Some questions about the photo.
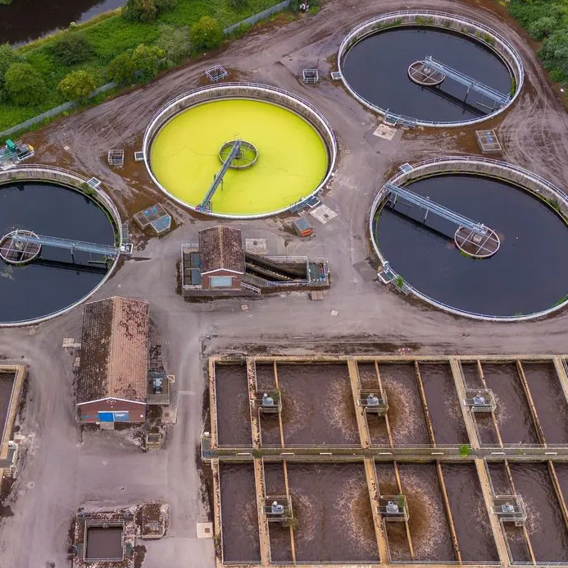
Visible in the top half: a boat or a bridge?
bridge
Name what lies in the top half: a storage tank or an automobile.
storage tank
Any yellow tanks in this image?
Yes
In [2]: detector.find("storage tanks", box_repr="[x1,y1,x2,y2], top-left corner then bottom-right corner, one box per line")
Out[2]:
[141,81,338,220]
[371,157,568,324]
[338,10,525,129]
[0,164,129,328]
